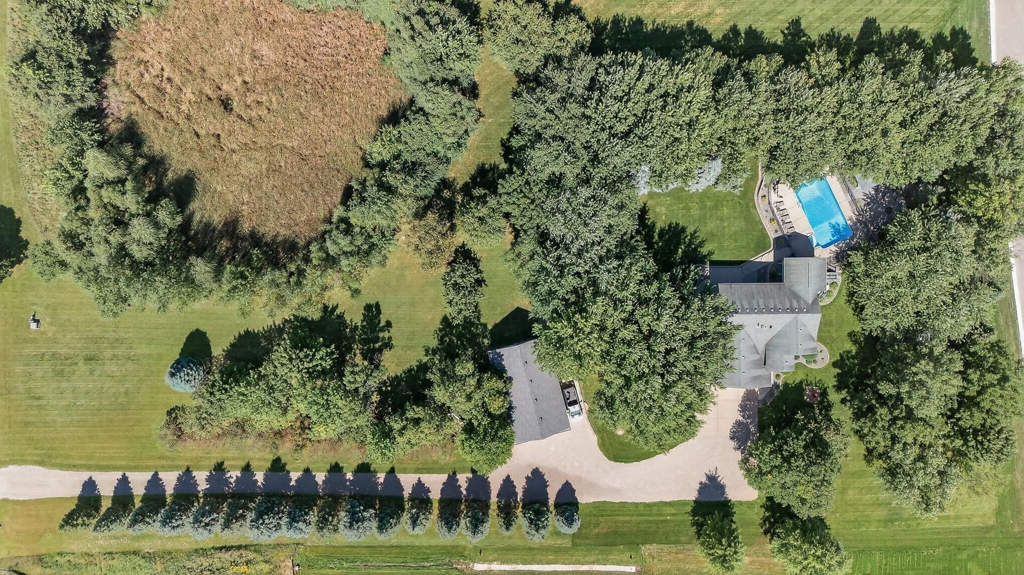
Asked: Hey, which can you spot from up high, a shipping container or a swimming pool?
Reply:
swimming pool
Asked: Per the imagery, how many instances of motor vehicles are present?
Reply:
one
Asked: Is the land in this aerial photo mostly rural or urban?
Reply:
rural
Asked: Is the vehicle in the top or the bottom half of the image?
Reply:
bottom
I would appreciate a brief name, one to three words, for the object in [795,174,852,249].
swimming pool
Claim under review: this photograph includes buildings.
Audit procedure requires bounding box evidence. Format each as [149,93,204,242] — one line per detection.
[488,338,572,445]
[707,257,827,389]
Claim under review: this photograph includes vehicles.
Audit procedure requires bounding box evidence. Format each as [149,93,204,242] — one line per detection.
[563,386,583,424]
